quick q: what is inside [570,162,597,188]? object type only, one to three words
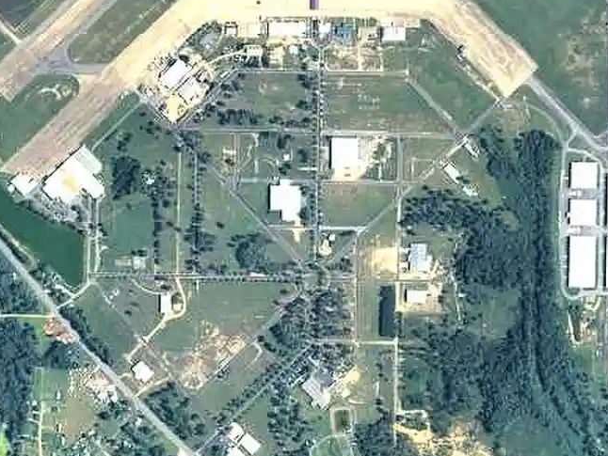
building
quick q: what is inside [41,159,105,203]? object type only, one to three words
building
